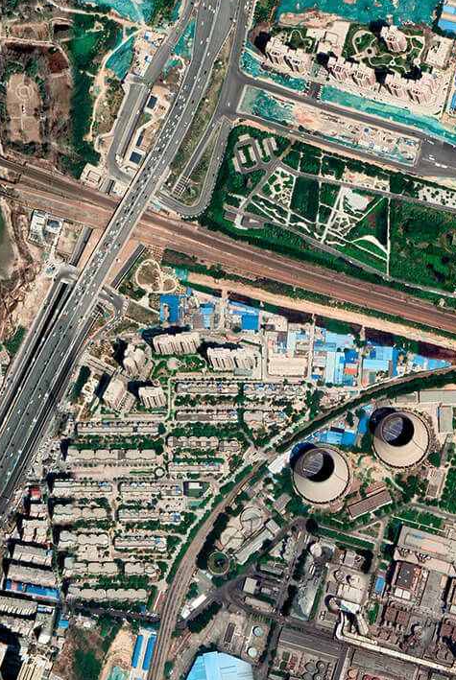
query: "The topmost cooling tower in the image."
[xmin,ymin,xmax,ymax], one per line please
[370,409,430,468]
